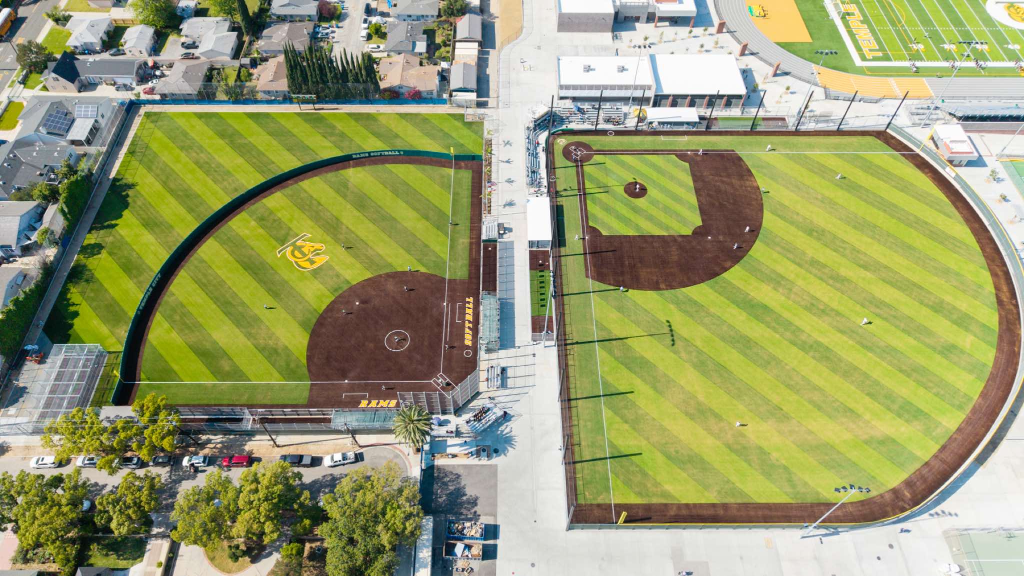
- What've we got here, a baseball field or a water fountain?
baseball field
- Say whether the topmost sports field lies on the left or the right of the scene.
right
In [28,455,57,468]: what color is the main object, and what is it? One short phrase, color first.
white vehicle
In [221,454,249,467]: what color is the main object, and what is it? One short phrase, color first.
red vehicle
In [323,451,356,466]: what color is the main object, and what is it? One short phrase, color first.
white vehicle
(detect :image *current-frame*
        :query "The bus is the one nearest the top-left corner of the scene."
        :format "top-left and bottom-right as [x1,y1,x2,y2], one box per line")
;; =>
[0,11,20,39]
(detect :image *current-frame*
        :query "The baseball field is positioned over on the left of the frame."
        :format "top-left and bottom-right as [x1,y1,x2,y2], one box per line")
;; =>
[40,111,483,414]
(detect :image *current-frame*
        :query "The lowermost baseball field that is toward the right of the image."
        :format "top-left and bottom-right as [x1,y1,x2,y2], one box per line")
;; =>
[550,130,1020,526]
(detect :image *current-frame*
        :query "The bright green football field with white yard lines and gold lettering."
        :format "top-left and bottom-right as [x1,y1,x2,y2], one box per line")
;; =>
[745,0,1024,80]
